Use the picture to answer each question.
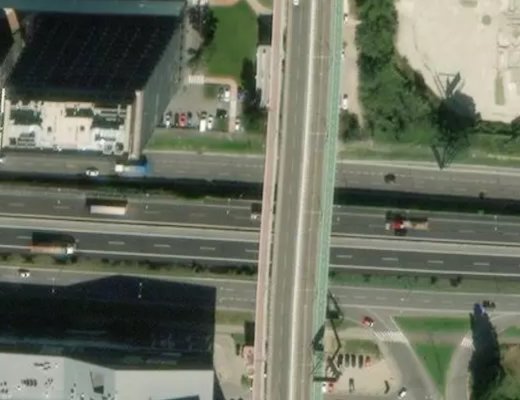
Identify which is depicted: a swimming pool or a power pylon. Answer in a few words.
power pylon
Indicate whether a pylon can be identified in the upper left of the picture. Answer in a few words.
No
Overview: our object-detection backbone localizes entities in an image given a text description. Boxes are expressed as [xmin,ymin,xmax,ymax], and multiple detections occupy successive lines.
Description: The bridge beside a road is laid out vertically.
[252,0,346,400]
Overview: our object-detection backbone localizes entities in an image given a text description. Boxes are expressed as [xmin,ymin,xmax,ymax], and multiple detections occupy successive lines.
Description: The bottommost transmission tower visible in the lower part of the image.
[313,354,340,390]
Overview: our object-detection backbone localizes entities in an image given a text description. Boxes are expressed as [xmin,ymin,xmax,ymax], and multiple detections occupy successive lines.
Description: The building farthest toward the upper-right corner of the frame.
[255,39,272,105]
